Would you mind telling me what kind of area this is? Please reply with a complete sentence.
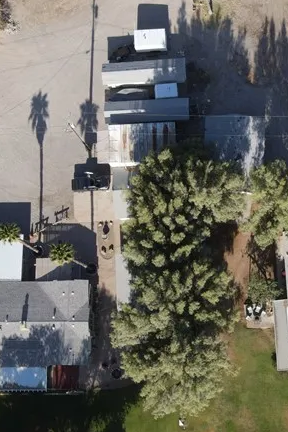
What you see here is a residential area.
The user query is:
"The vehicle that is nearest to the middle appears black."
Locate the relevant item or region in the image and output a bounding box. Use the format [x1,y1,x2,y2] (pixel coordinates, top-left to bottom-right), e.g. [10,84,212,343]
[73,177,112,192]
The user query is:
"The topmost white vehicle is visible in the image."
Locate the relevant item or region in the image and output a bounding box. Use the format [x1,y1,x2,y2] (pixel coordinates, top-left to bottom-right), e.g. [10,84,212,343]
[131,28,169,60]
